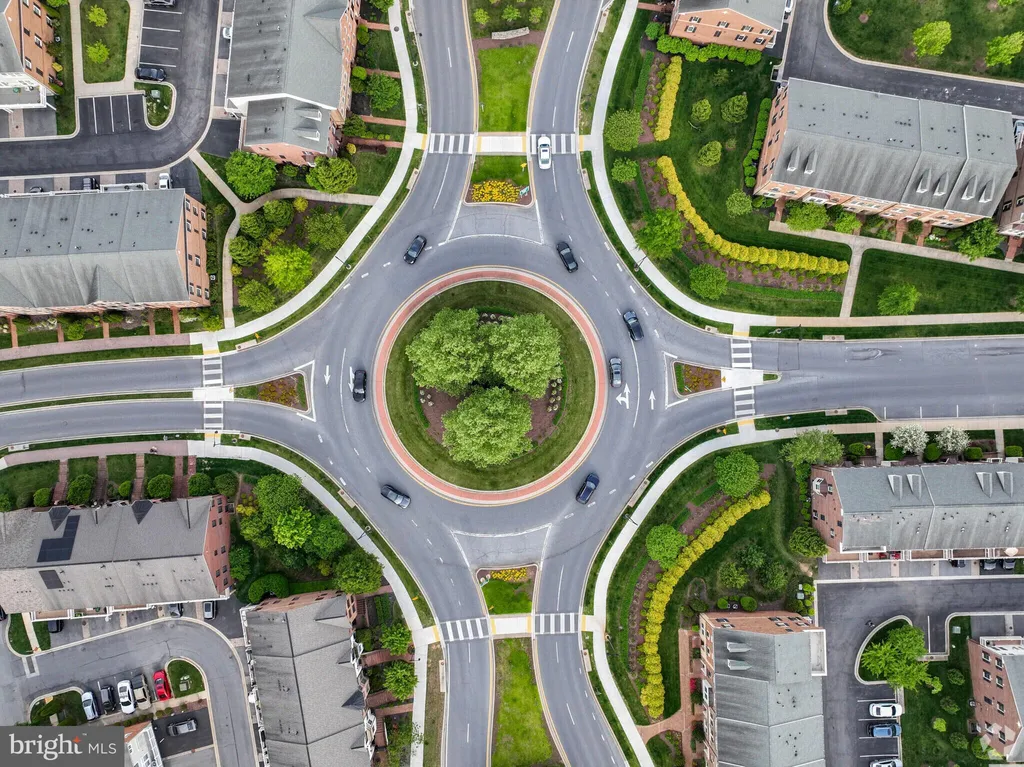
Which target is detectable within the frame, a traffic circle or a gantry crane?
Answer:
traffic circle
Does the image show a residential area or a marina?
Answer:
residential area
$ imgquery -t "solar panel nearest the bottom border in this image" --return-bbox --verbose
[39,570,63,589]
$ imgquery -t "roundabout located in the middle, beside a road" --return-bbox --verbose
[337,238,643,533]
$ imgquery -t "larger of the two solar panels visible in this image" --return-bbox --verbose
[37,516,80,562]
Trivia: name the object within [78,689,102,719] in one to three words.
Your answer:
car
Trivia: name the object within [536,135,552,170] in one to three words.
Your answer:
car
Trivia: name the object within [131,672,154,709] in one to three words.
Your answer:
vehicle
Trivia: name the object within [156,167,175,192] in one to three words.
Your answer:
vehicle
